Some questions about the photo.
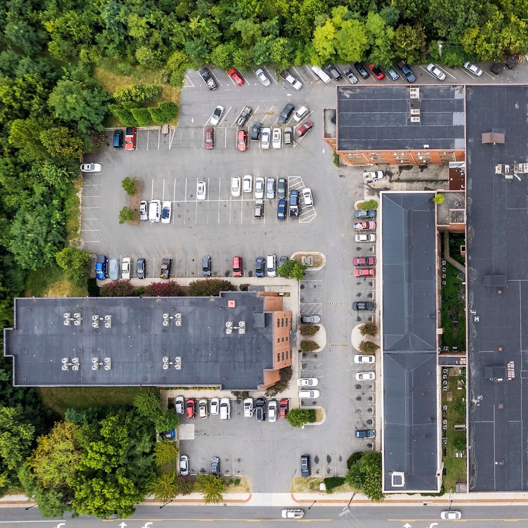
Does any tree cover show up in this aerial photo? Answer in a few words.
Yes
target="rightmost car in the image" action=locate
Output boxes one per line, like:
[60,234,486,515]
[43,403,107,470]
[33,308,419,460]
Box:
[464,63,483,79]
